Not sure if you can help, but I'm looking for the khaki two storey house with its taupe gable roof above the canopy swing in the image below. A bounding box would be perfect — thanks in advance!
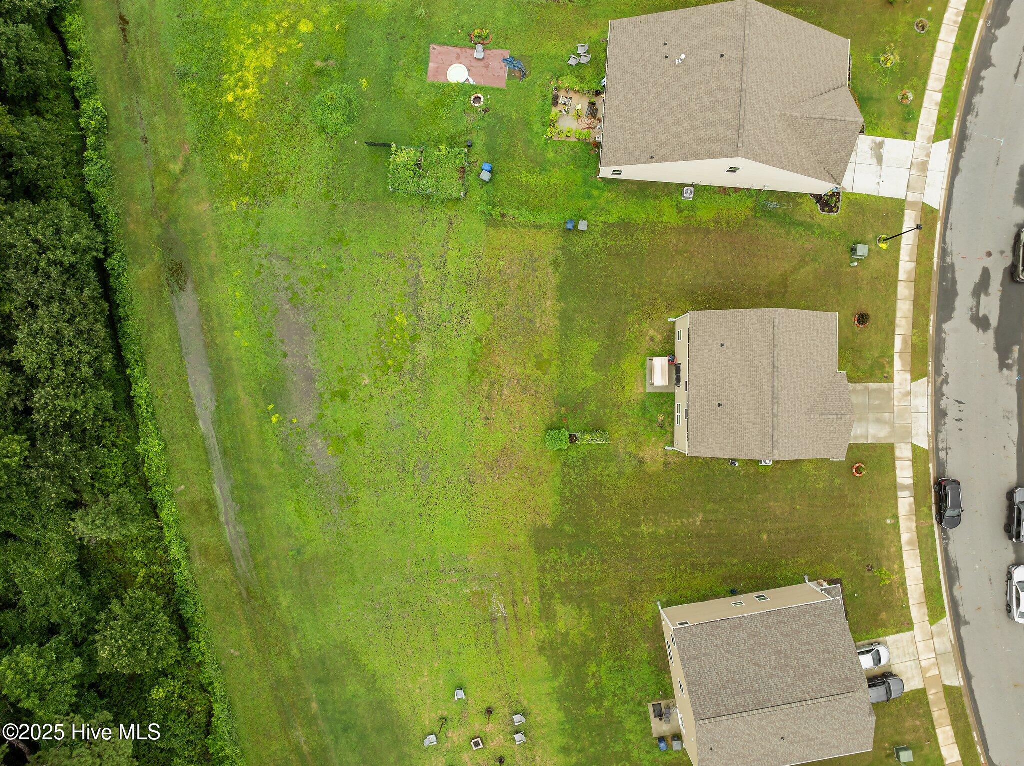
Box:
[660,307,855,459]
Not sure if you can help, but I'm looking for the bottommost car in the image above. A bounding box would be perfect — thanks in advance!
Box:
[870,671,904,705]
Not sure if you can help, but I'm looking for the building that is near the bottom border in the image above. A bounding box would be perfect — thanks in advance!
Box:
[660,570,879,766]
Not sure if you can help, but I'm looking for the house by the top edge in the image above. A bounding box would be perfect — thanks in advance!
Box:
[588,0,866,201]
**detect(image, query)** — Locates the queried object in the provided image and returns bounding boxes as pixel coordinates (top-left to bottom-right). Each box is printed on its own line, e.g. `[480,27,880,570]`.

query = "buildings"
[660,570,879,766]
[660,307,855,459]
[588,0,866,201]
